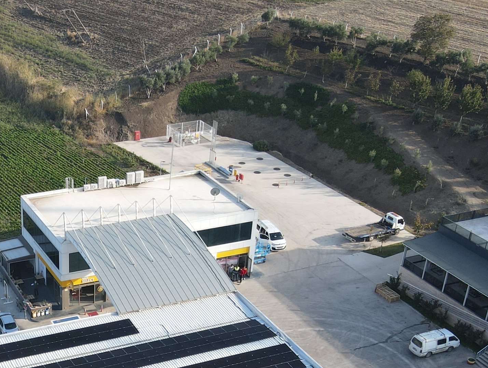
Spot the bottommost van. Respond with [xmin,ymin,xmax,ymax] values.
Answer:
[408,328,461,357]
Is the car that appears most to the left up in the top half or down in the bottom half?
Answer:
bottom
